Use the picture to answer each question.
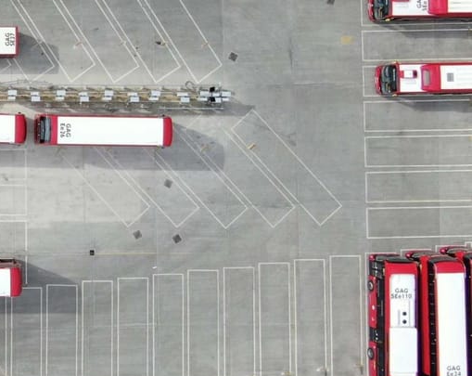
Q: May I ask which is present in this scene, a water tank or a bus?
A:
bus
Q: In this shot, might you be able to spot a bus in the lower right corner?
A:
Yes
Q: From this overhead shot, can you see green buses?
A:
No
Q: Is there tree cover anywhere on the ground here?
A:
No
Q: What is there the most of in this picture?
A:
paved ground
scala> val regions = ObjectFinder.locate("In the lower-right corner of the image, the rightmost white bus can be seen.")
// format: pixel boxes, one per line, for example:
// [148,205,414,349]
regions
[406,247,468,376]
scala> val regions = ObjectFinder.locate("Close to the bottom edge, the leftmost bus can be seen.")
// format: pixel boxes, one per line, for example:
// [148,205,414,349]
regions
[368,250,420,376]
